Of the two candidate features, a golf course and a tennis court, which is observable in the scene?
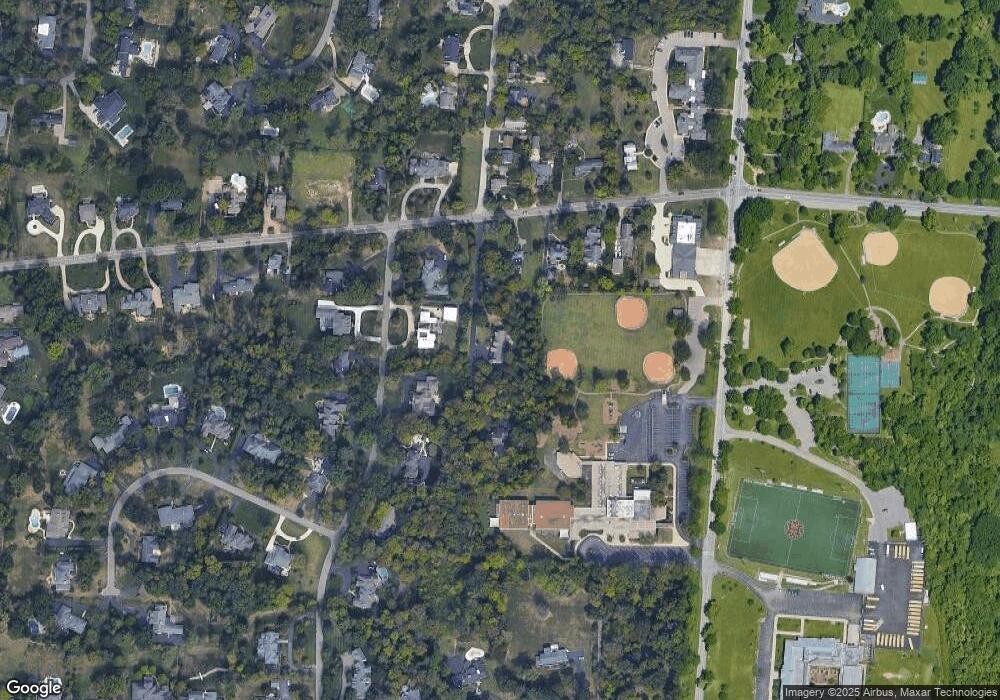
tennis court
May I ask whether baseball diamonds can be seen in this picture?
Yes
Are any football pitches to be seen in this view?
Yes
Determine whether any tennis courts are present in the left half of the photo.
No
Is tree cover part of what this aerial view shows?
Yes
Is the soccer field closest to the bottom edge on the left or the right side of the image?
right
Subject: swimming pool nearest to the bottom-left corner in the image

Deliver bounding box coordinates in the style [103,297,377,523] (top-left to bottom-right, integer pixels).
[28,617,45,635]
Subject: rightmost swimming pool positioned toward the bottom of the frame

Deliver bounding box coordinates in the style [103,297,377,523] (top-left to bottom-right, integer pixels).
[466,647,484,660]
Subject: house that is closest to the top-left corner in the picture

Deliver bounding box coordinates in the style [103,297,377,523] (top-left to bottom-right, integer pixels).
[37,16,57,56]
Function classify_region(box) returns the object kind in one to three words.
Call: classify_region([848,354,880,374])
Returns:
tennis court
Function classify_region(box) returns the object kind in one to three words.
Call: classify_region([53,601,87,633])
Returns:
house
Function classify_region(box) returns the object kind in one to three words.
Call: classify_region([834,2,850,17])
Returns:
swimming pool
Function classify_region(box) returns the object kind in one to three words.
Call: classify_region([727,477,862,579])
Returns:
soccer field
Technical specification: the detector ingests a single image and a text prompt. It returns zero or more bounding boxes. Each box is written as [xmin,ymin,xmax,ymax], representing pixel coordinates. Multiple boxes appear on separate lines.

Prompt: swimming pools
[834,2,850,17]
[114,122,134,141]
[28,509,40,533]
[466,647,484,660]
[378,567,389,582]
[141,39,159,65]
[2,400,20,424]
[231,174,247,192]
[871,110,891,132]
[164,385,182,397]
[421,87,438,105]
[28,617,45,635]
